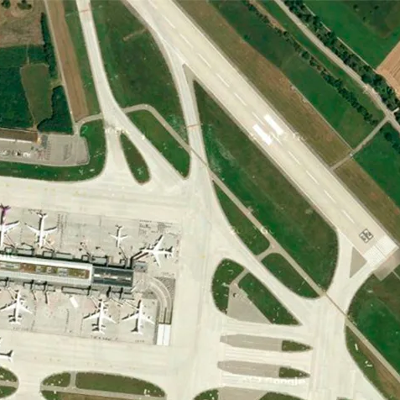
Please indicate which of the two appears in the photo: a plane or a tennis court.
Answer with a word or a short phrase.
plane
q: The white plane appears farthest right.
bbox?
[142,237,173,267]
